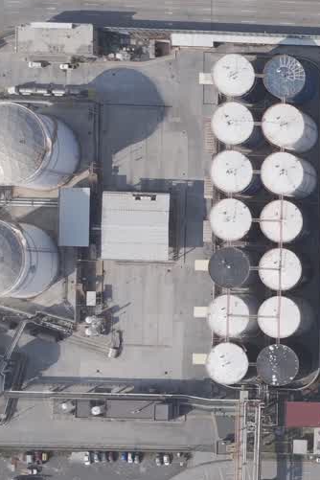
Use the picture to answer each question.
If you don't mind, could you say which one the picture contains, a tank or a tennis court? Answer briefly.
tank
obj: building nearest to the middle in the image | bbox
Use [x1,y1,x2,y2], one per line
[102,193,177,261]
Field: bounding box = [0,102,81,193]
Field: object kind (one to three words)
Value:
storage tank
